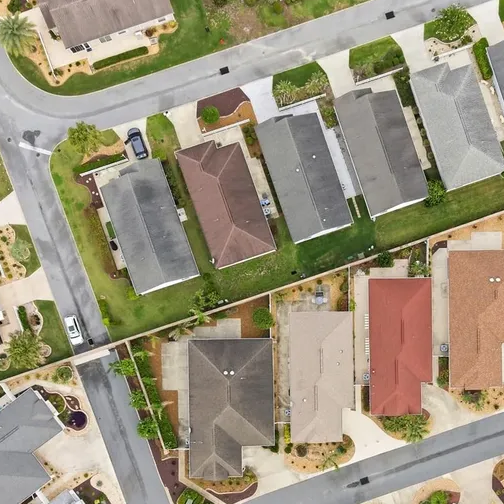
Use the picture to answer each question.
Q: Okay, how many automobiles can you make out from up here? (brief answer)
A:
2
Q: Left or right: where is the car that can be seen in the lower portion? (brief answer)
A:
left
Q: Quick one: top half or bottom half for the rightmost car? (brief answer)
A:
top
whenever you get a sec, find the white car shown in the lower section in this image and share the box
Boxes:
[63,314,86,346]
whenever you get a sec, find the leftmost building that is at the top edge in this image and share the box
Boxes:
[40,0,175,55]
